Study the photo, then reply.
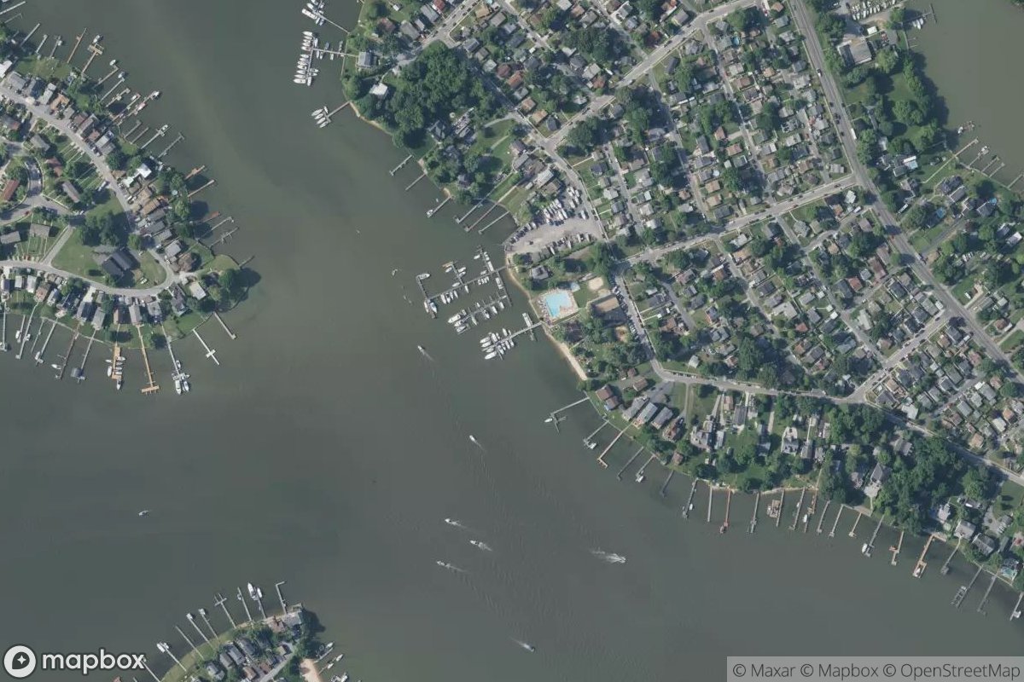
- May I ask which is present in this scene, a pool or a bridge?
pool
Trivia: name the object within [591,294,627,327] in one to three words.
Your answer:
sports court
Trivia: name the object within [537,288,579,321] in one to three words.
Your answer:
swimming pool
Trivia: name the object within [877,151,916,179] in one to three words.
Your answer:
house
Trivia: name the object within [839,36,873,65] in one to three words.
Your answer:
building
